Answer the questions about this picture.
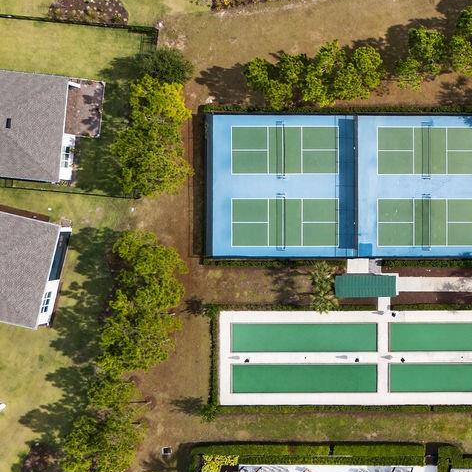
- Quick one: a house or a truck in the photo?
house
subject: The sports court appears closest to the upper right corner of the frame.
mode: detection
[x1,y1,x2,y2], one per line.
[377,120,472,180]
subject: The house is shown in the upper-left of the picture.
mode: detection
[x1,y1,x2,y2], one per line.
[0,69,76,183]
